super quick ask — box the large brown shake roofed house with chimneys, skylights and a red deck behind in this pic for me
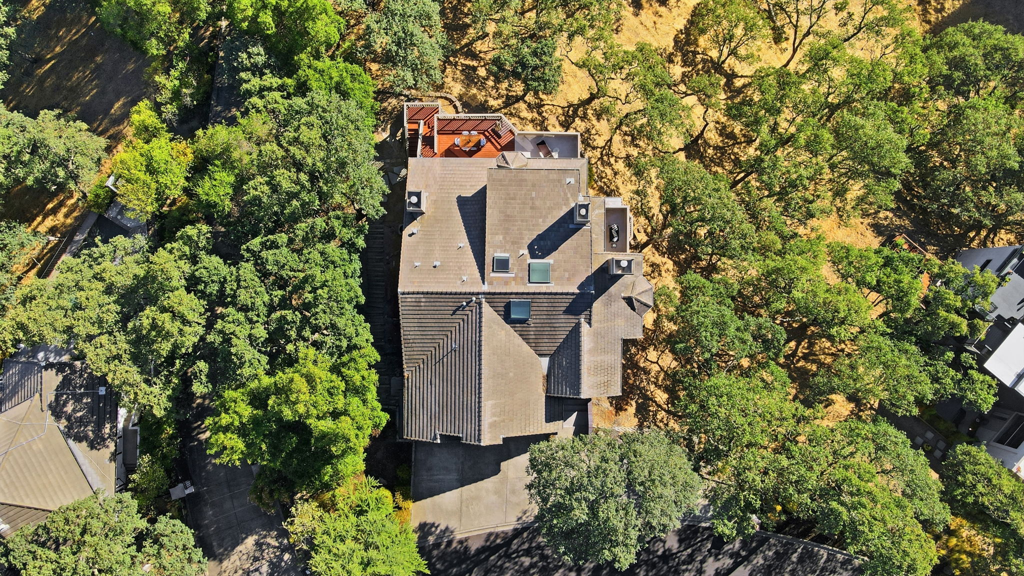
[397,151,654,448]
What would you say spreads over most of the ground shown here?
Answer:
trees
